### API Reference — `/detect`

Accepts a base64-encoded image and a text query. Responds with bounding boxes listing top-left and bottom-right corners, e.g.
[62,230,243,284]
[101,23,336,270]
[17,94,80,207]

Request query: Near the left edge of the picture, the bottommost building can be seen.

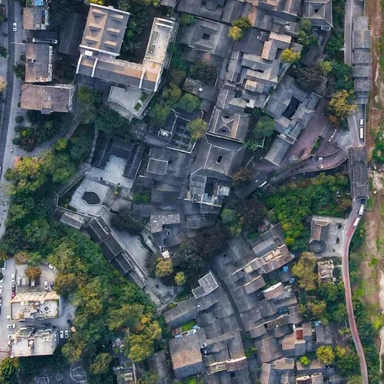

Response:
[12,327,62,356]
